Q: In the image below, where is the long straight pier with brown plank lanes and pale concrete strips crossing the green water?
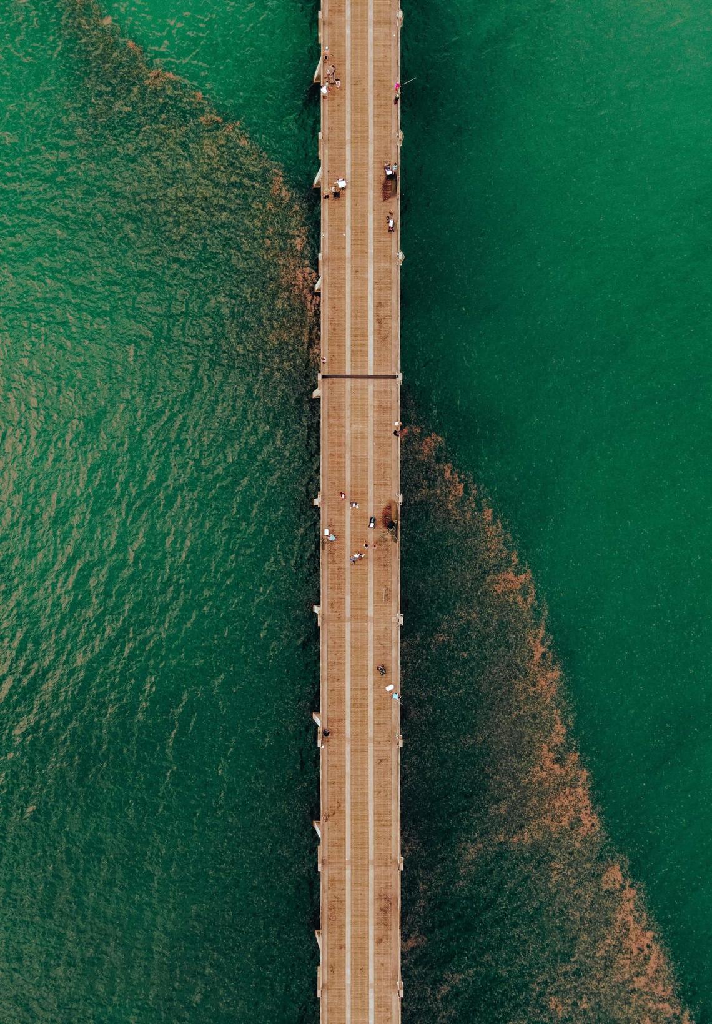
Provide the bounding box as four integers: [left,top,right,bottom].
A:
[313,0,405,1024]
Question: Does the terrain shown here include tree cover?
No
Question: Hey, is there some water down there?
Yes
